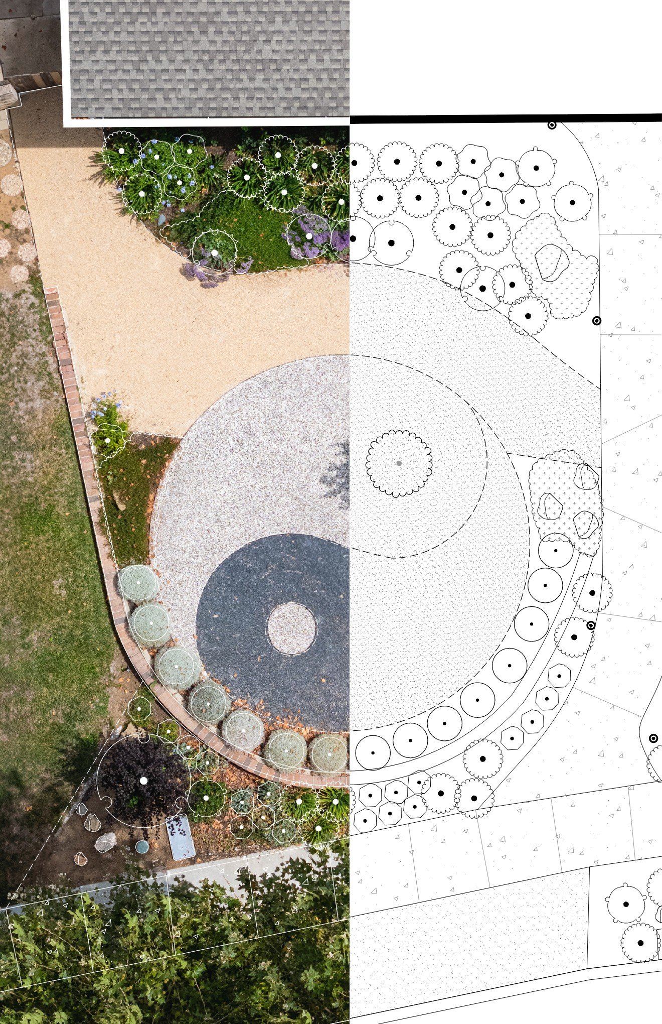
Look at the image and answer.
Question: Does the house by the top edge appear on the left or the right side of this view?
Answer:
left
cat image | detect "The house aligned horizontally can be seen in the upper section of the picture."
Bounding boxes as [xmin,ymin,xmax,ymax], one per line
[60,0,350,128]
